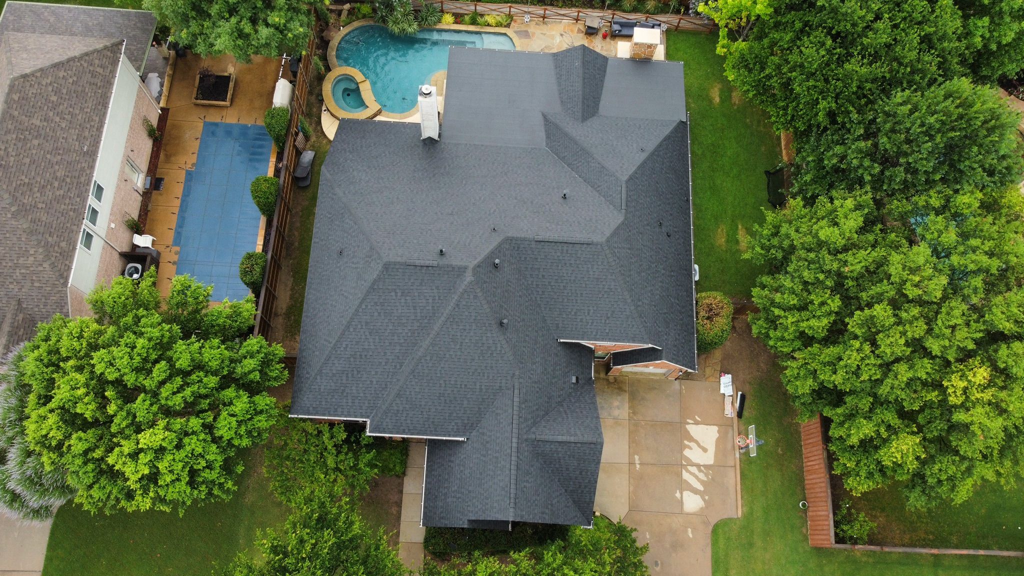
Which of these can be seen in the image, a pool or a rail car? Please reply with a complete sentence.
Visible in the photo is a pool.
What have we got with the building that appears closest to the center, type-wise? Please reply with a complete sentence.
From above, the building that appears closest to the center can be identified as a house.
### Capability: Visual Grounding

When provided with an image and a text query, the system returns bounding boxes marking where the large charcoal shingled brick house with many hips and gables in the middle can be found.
[288,44,699,532]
